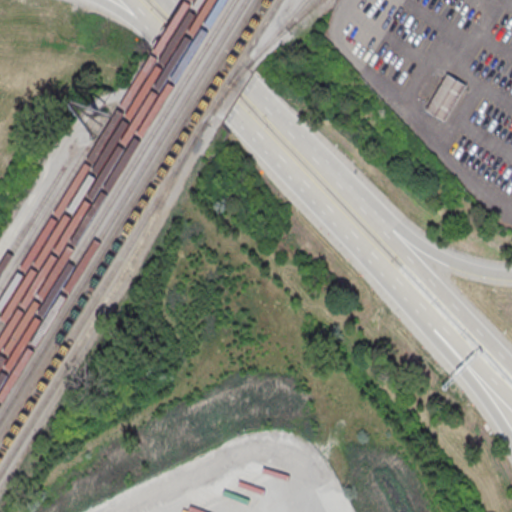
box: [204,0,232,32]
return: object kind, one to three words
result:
rail car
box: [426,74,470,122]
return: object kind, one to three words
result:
building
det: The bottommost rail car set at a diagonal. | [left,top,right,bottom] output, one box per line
[2,396,40,452]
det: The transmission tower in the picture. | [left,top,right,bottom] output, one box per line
[66,100,111,140]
